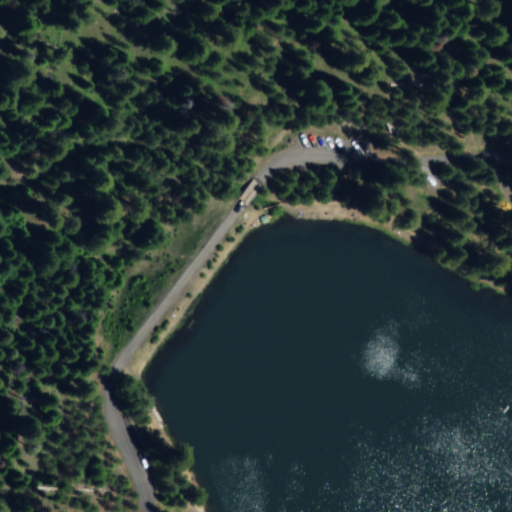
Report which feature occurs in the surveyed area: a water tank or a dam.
dam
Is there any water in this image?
Yes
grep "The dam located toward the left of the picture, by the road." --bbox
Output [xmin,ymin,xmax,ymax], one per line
[104,200,256,385]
